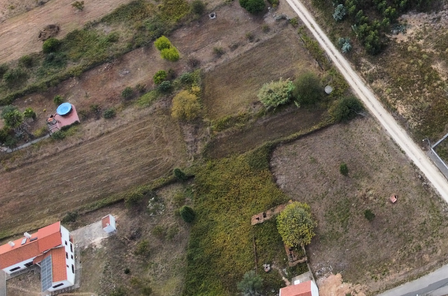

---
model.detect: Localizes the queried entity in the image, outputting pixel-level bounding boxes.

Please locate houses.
[0,221,74,295]
[279,280,318,296]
